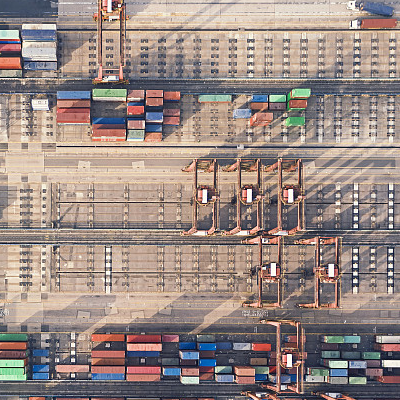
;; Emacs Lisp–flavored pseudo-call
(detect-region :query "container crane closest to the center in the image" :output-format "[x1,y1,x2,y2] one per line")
[183,159,223,237]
